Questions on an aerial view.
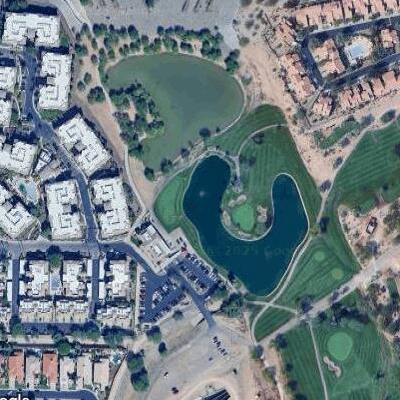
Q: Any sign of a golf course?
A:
Yes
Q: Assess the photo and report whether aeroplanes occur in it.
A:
No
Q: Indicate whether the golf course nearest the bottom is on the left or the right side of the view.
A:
right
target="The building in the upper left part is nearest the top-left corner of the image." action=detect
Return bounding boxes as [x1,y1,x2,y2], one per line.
[0,12,60,48]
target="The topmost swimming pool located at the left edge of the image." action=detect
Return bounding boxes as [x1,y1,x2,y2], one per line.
[20,181,35,202]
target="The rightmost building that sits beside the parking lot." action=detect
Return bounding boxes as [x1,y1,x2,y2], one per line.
[137,230,178,260]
